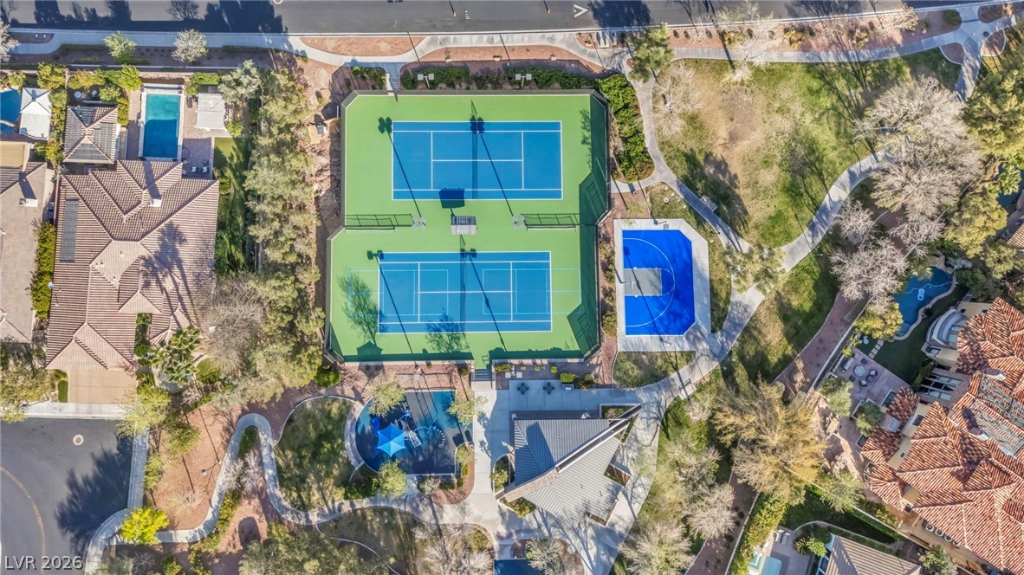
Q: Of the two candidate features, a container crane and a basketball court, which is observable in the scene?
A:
basketball court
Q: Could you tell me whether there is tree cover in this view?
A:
Yes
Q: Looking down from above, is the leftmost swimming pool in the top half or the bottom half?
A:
top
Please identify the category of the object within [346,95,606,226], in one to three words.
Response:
tennis court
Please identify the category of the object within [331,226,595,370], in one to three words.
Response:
tennis court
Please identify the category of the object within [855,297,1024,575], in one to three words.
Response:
house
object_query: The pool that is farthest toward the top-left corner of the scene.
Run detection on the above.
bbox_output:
[0,87,22,131]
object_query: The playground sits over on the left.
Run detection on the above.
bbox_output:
[344,390,457,477]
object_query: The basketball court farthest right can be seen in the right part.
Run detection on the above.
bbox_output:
[614,219,714,351]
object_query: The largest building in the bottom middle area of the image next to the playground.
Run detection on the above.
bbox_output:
[503,404,641,528]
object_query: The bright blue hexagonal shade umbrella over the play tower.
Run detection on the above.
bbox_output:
[376,422,406,456]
